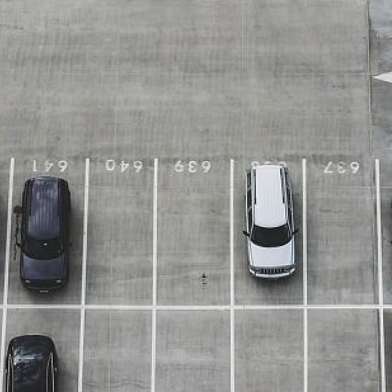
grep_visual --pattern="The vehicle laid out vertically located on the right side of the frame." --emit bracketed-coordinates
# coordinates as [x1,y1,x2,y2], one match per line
[243,164,299,278]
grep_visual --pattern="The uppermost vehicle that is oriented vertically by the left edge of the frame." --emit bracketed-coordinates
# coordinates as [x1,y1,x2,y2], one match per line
[15,176,72,291]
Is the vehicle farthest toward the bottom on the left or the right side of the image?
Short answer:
left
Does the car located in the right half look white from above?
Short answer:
Yes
